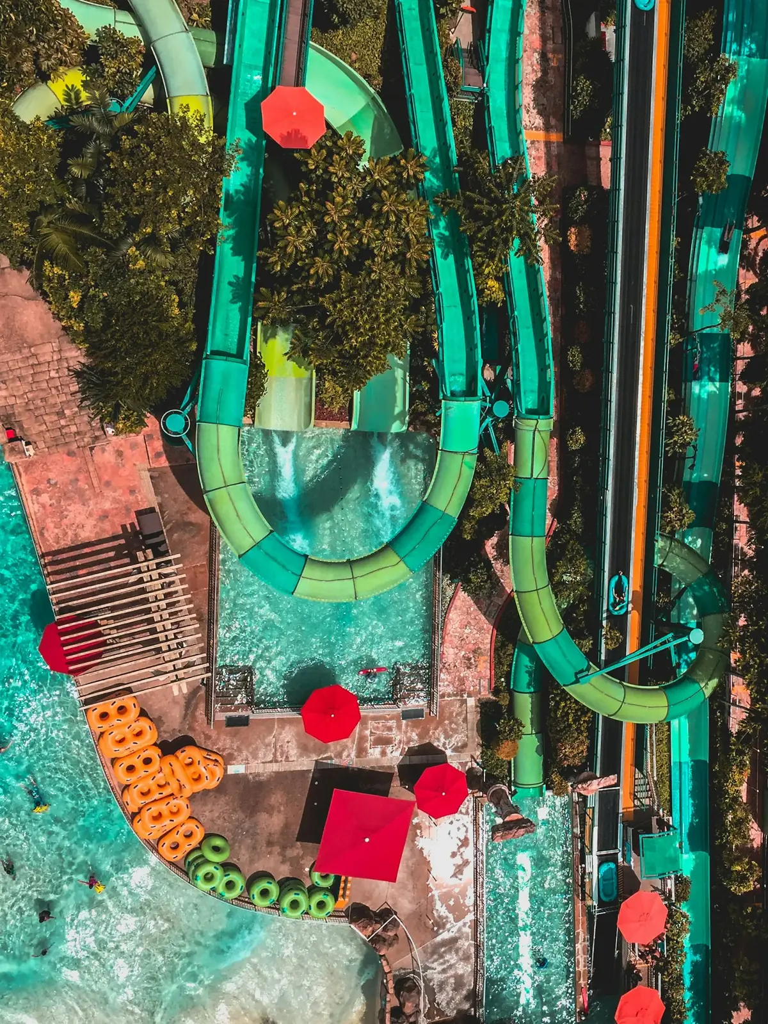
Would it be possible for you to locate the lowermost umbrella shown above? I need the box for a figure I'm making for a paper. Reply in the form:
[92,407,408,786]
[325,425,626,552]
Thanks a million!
[612,961,665,1024]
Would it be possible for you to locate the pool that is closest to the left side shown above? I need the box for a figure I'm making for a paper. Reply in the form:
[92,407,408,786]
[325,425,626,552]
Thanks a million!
[0,453,387,1024]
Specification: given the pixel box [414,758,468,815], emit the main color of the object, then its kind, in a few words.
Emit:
red umbrella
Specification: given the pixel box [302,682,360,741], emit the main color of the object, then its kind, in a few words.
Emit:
red umbrella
